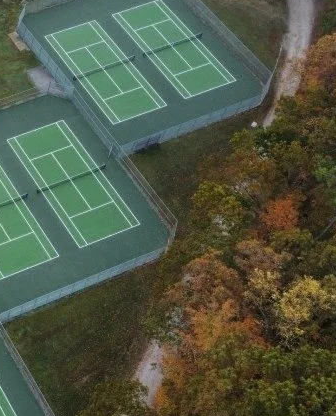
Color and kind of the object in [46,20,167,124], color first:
green tennis court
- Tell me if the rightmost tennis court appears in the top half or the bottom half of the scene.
top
